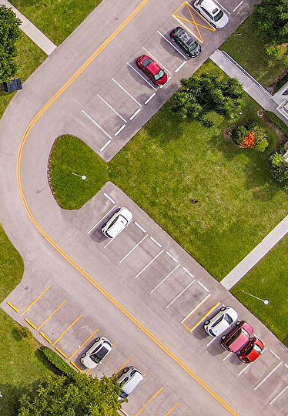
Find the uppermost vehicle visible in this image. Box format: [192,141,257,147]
[192,0,231,29]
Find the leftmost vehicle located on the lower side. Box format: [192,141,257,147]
[81,336,115,369]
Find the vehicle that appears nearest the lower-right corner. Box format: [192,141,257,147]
[236,335,267,366]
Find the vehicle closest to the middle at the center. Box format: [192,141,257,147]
[100,206,135,240]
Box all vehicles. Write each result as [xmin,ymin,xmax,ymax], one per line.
[219,318,257,355]
[192,0,231,29]
[204,303,239,339]
[81,336,115,369]
[236,335,267,366]
[113,365,148,401]
[168,25,202,58]
[100,206,135,240]
[134,52,169,87]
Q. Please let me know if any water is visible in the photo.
No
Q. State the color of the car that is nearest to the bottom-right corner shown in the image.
red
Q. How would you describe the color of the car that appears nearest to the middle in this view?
white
